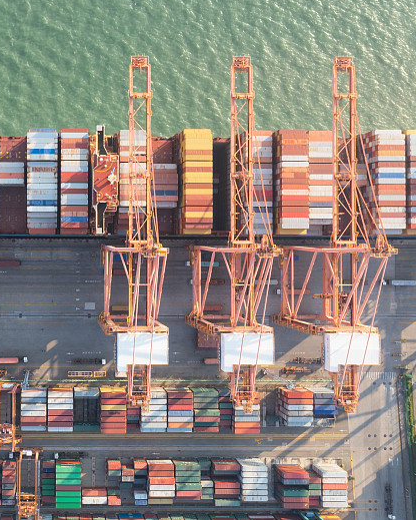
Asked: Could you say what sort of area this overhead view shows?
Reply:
port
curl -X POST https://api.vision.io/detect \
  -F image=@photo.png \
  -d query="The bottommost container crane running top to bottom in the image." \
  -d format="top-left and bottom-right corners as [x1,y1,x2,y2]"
[16,448,45,520]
